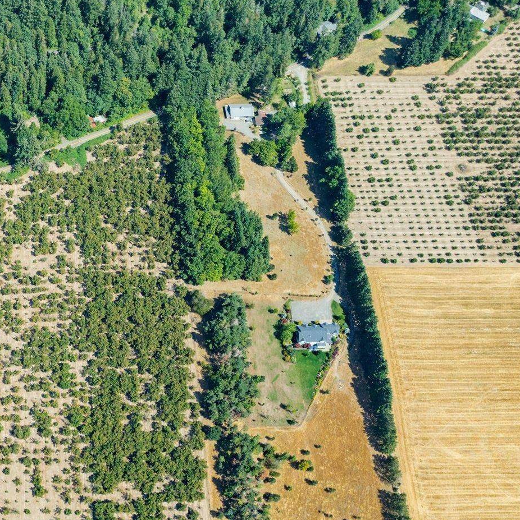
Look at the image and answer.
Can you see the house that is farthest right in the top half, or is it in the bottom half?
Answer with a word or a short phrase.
top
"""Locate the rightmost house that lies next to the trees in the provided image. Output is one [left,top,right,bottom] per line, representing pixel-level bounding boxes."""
[466,0,492,26]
